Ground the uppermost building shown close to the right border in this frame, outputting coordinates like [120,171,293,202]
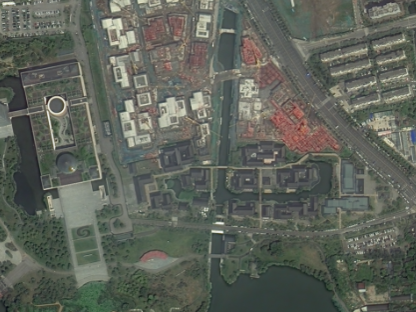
[367,2,401,22]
